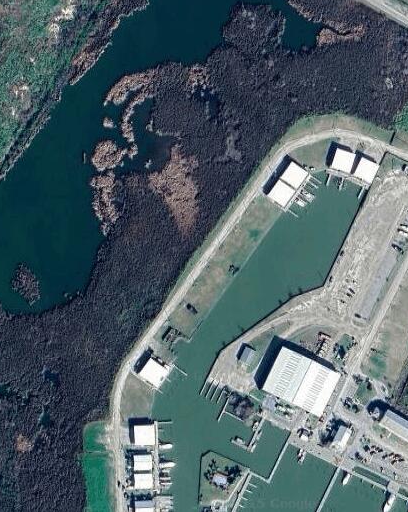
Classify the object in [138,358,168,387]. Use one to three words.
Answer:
building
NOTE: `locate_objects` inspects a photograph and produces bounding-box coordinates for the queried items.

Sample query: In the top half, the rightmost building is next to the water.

[352,156,380,184]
